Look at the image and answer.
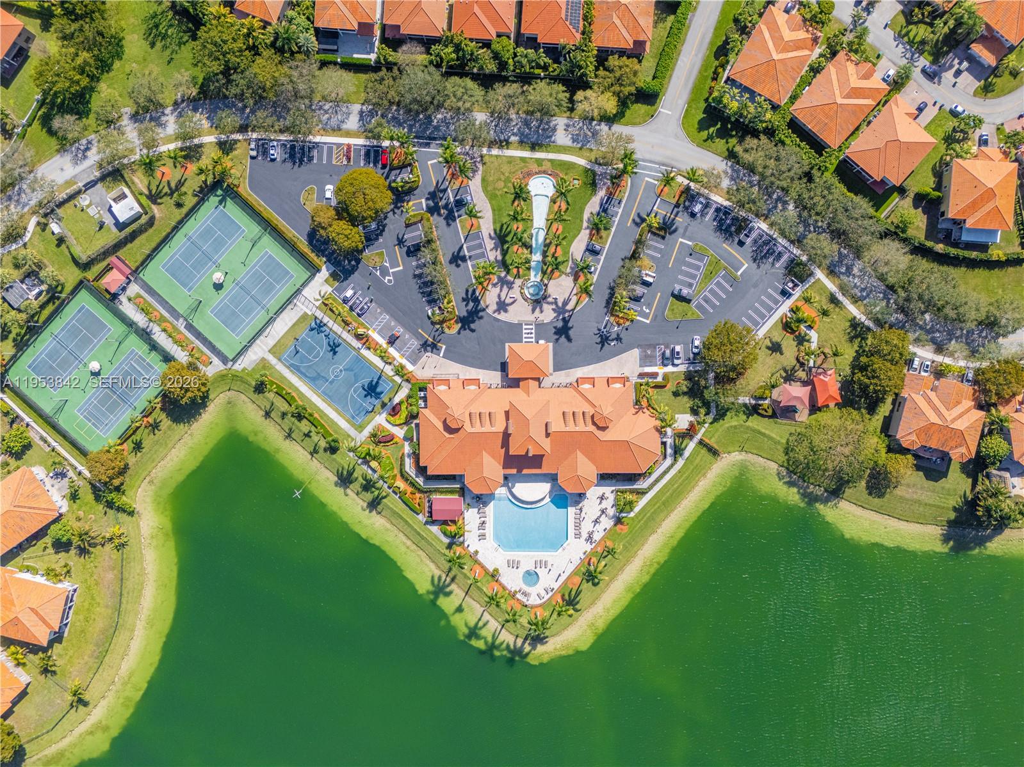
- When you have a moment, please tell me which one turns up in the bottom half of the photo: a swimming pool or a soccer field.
swimming pool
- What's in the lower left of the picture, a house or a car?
house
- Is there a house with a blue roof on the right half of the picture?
No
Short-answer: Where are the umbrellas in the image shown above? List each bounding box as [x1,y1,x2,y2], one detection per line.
[90,360,105,372]
[213,272,227,284]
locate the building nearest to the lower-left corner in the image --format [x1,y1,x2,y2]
[0,657,31,712]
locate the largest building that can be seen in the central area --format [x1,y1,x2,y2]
[419,343,660,494]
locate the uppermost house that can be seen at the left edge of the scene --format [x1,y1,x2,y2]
[0,7,41,77]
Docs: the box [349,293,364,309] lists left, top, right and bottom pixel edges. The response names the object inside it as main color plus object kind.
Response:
gray car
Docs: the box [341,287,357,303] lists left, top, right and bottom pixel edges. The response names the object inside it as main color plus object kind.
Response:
white car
